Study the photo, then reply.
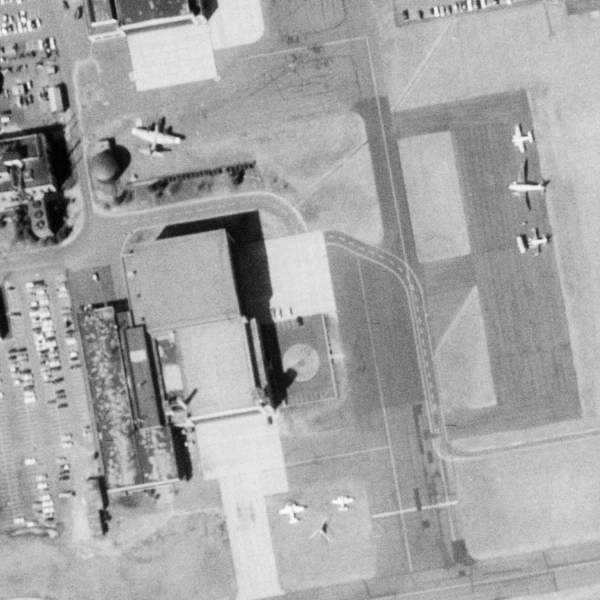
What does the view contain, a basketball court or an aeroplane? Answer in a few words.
aeroplane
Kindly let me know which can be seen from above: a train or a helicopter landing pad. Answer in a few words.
helicopter landing pad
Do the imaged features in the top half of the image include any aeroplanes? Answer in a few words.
Yes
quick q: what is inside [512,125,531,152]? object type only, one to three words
airplane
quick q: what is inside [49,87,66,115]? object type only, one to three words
shed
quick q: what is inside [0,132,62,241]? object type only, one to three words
building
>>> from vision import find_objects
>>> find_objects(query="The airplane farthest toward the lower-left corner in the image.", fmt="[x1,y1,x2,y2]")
[278,503,304,522]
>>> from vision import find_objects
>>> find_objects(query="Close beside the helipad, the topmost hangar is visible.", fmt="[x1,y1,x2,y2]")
[122,228,252,338]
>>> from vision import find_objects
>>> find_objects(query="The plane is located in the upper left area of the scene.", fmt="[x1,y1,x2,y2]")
[131,122,182,156]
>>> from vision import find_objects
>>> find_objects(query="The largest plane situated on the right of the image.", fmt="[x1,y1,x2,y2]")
[507,161,543,213]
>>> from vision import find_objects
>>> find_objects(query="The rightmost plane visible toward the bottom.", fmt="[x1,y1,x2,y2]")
[332,495,353,510]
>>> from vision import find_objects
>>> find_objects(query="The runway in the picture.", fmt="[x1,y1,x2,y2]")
[258,541,600,600]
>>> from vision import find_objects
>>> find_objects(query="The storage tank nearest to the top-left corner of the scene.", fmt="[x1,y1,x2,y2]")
[90,149,130,188]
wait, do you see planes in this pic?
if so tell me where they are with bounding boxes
[507,161,543,213]
[526,229,544,255]
[512,125,531,152]
[332,495,353,510]
[278,503,304,522]
[131,122,182,156]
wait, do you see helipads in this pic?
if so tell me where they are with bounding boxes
[262,316,338,407]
